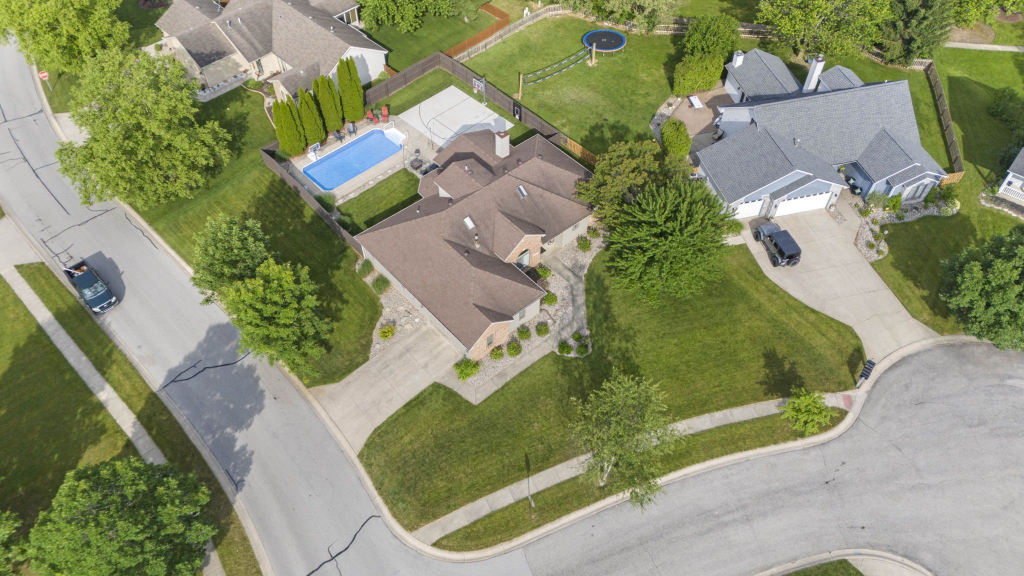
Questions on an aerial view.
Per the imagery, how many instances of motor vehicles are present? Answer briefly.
2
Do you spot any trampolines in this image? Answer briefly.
Yes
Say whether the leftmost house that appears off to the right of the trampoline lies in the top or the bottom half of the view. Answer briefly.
top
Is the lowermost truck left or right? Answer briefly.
left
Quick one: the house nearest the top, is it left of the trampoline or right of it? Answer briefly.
to the left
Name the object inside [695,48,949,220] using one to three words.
house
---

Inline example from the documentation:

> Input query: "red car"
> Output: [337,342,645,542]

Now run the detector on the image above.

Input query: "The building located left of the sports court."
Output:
[128,0,389,106]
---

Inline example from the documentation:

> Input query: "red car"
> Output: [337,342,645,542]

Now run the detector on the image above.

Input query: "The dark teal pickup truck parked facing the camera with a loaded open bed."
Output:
[63,261,117,315]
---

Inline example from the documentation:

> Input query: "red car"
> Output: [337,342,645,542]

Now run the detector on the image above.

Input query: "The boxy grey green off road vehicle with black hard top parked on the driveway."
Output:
[753,224,802,267]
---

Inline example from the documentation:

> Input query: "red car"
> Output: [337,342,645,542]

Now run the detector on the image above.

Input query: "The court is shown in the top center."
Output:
[396,85,514,149]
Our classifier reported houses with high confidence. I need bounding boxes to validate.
[128,0,389,106]
[353,128,614,363]
[998,151,1024,207]
[695,48,949,220]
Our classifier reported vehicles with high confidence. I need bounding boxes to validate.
[63,261,117,315]
[753,224,802,267]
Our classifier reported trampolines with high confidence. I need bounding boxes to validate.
[583,31,626,62]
